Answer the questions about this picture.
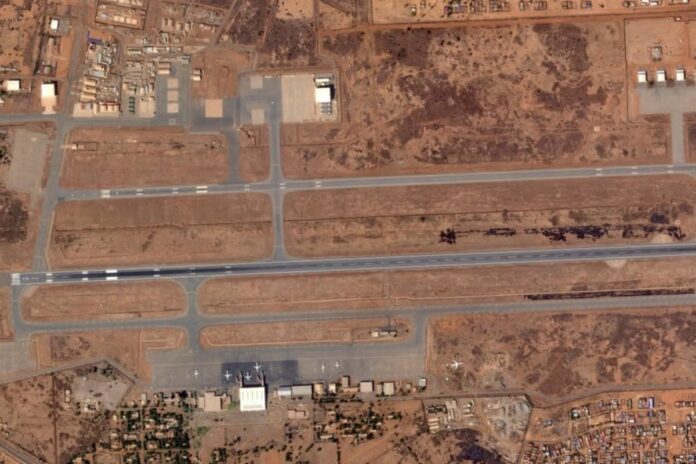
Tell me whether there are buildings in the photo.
Yes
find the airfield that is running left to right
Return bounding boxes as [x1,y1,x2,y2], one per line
[0,58,696,391]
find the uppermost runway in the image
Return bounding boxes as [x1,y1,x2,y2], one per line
[57,162,696,200]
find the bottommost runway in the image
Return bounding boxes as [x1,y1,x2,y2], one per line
[12,244,696,286]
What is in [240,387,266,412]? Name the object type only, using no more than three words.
building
